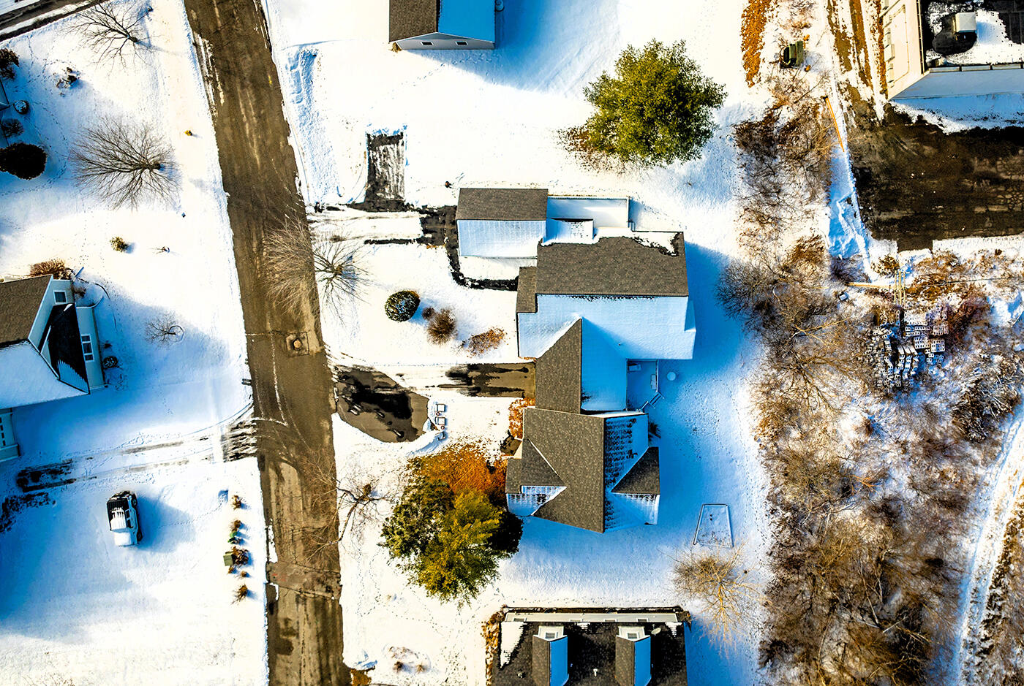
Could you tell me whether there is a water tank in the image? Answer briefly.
No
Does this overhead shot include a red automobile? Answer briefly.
No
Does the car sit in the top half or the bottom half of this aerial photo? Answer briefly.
bottom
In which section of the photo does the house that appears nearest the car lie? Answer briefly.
left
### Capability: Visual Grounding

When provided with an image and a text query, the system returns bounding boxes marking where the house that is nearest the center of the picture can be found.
[455,187,696,533]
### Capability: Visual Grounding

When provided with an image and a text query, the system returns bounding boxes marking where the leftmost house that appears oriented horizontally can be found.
[387,0,497,52]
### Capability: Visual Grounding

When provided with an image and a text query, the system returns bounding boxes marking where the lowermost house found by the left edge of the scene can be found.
[0,267,102,461]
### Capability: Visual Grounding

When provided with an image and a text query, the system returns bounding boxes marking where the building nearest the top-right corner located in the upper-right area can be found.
[871,0,1024,97]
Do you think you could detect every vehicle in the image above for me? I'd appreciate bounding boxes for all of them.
[103,490,139,551]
